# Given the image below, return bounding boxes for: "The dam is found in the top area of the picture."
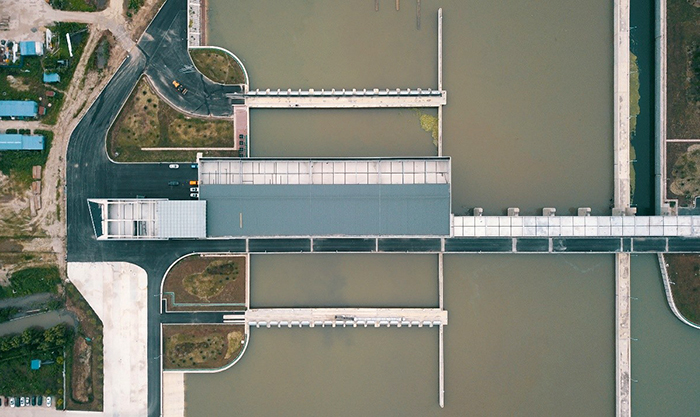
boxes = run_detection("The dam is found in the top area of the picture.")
[247,88,447,109]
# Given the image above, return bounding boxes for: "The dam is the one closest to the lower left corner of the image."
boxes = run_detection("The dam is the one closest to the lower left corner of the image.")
[249,308,447,328]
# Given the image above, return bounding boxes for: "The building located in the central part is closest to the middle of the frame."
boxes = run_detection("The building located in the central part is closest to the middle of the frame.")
[198,153,451,239]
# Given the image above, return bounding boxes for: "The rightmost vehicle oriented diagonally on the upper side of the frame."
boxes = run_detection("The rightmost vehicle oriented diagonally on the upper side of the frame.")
[172,79,189,96]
